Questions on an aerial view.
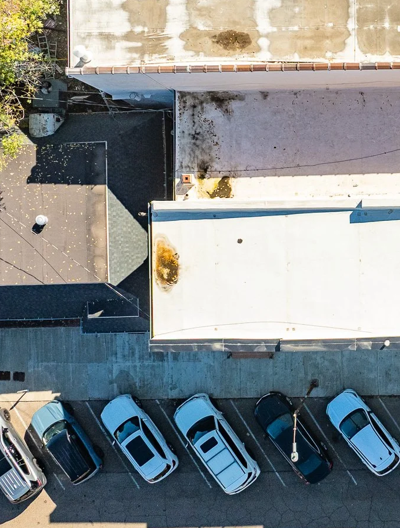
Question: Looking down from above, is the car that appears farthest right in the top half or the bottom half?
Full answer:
The car that appears farthest right is in the bottom half of the image.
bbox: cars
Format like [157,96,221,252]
[253,387,336,489]
[0,405,49,504]
[28,395,107,490]
[174,392,262,499]
[102,394,181,487]
[326,385,400,480]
